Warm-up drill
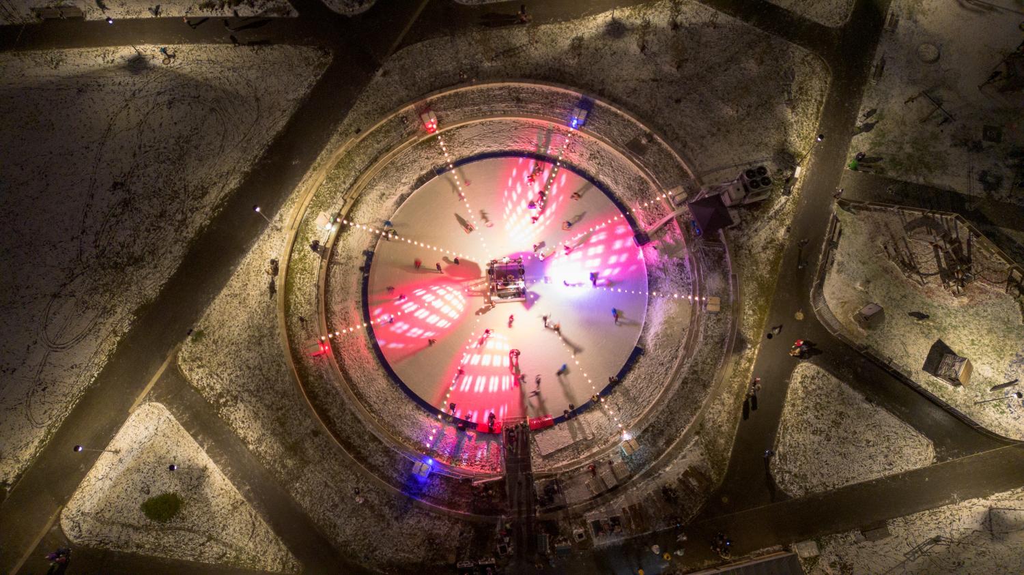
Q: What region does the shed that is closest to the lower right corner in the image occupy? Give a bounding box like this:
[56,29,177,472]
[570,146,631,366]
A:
[934,349,973,385]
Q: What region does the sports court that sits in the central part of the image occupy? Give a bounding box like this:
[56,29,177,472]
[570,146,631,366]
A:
[368,158,646,428]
